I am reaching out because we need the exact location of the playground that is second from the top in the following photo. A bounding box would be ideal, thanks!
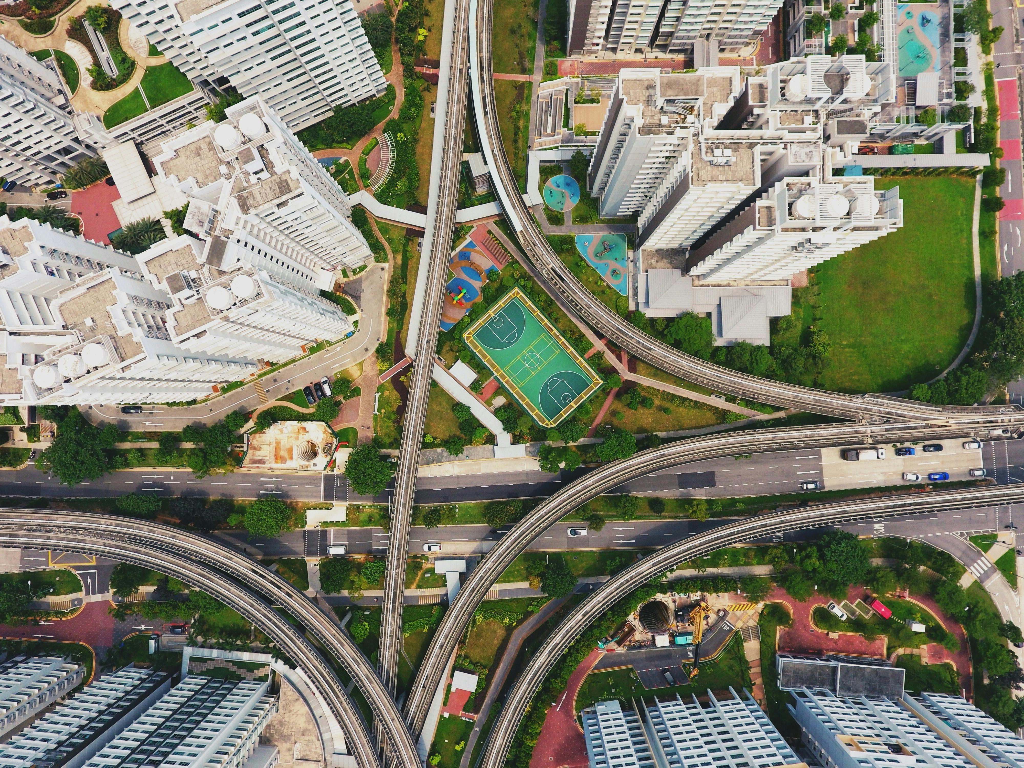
[543,174,580,212]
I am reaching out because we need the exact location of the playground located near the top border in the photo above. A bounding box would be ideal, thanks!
[897,4,940,77]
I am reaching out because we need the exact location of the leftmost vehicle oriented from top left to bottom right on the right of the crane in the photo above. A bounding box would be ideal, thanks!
[829,603,846,619]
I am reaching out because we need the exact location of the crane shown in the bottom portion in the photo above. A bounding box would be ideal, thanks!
[683,599,717,676]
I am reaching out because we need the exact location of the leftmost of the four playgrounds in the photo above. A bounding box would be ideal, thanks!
[441,236,503,332]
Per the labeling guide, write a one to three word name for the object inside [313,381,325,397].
vehicle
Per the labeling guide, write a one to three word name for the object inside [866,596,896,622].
truck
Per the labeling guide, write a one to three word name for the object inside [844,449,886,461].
vehicle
